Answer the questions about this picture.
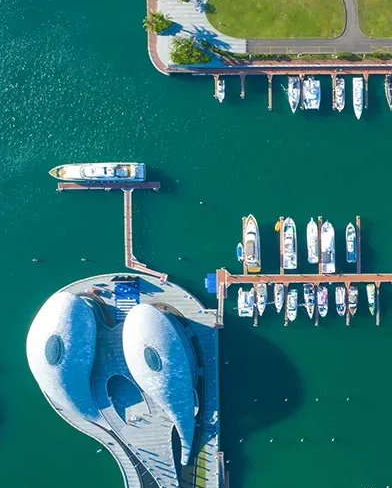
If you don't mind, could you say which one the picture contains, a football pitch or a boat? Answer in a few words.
boat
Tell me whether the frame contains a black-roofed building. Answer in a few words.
No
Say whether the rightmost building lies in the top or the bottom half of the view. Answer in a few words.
bottom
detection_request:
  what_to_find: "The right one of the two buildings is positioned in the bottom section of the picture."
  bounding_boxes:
[122,303,200,466]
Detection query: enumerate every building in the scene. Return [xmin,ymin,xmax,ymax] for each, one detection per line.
[25,291,113,431]
[122,303,200,466]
